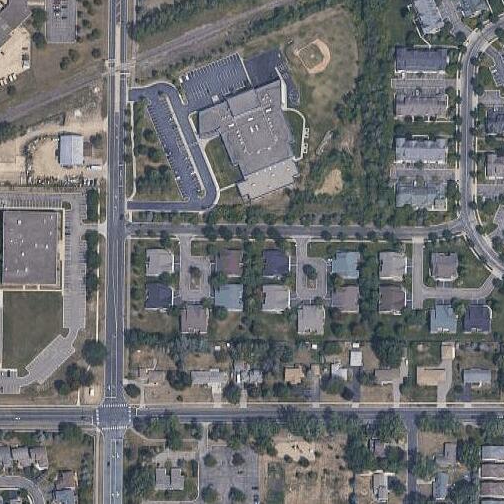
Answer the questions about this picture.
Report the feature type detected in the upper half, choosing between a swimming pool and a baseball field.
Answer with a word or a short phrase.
baseball field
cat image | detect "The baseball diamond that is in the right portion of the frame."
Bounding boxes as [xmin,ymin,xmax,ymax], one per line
[288,37,330,73]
